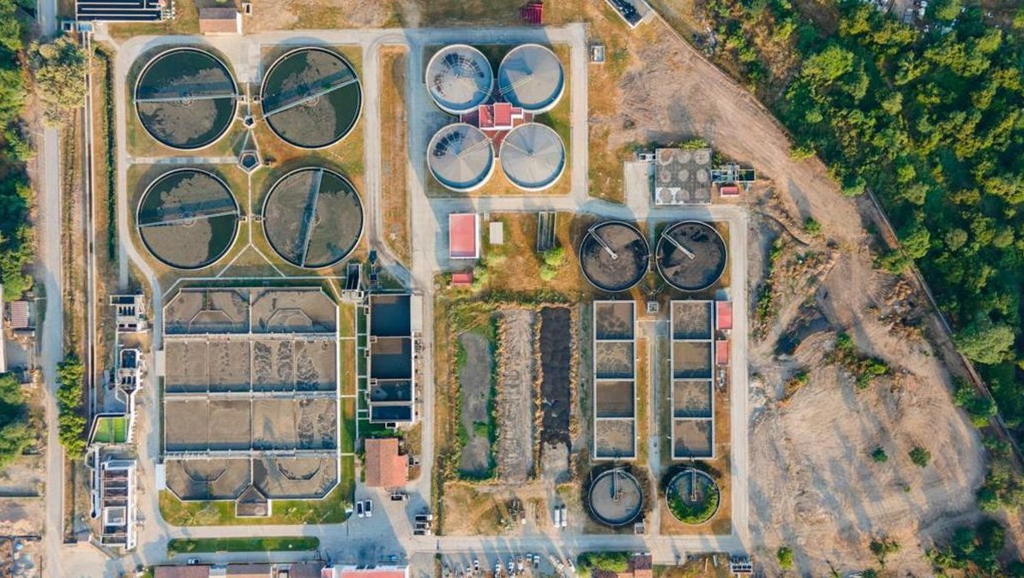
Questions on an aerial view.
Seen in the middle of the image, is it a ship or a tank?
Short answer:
tank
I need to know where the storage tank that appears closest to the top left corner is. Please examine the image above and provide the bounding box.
[134,47,242,151]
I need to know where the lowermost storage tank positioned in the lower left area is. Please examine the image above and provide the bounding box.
[87,412,137,449]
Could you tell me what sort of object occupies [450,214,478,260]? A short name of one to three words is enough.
building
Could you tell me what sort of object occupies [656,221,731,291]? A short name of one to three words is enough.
storage tank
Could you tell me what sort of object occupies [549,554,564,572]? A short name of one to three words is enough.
vehicle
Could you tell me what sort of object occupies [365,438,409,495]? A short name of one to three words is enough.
house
